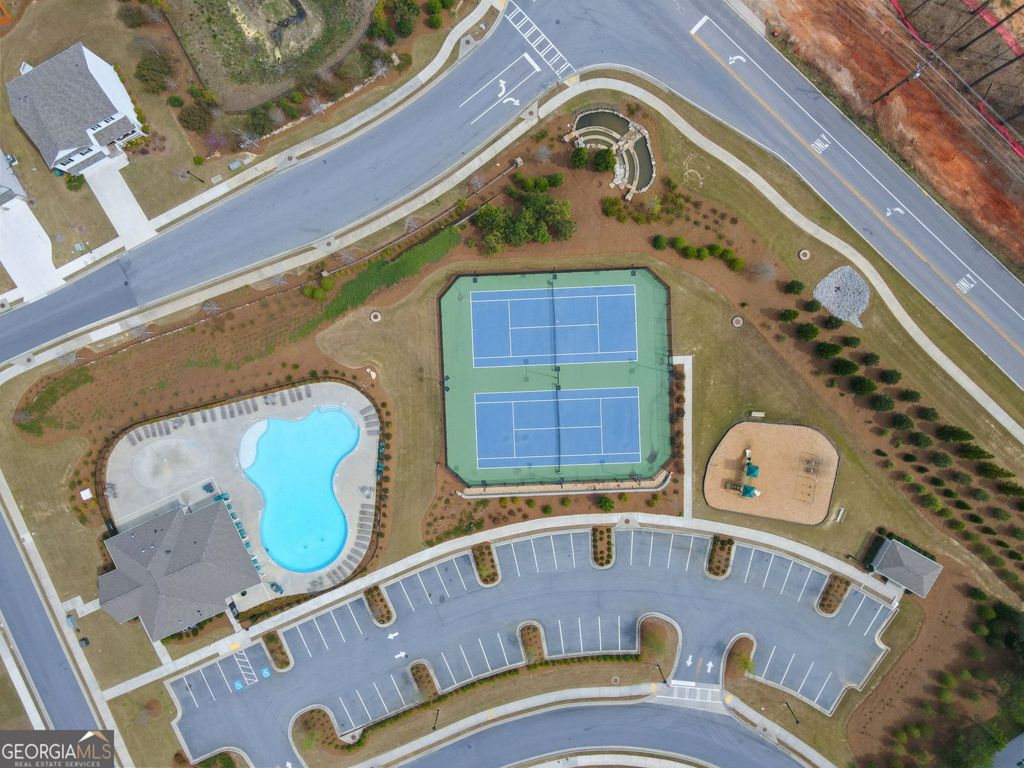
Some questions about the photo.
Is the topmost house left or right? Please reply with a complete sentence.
You can find the topmost house on the left side of the picture.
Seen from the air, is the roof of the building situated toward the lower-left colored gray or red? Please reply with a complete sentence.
The roof of the building situated toward the lower-left looks gray in the image.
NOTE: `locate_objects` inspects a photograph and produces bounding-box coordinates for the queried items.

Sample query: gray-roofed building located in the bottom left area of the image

[97,498,267,643]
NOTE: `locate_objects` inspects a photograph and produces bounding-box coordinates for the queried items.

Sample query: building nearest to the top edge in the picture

[6,41,148,179]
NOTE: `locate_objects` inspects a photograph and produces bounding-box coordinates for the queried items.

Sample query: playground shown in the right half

[702,420,842,526]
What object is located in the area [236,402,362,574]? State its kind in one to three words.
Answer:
swimming pool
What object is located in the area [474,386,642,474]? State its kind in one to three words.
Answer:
tennis court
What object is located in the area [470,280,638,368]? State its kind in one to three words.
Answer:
tennis court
